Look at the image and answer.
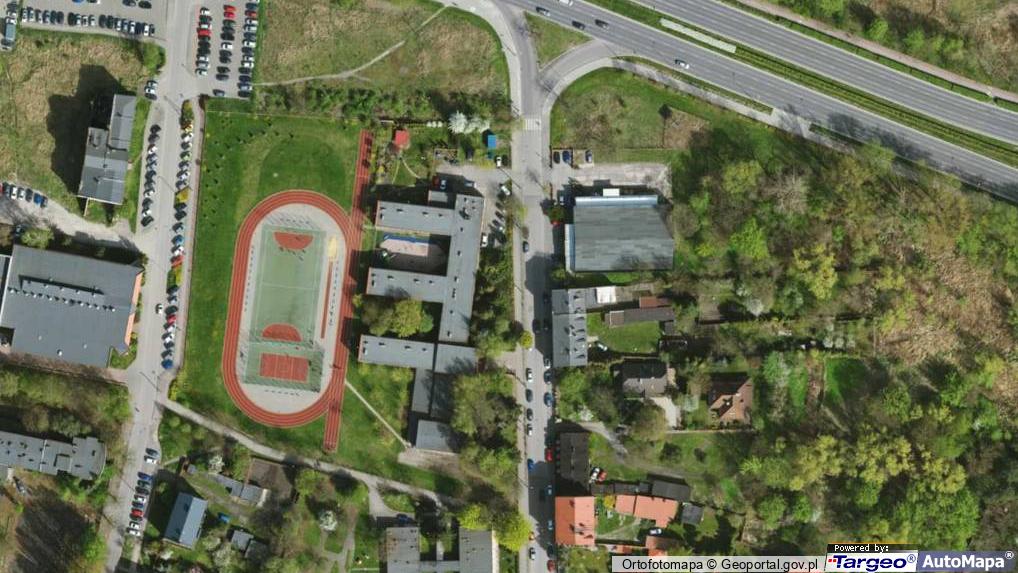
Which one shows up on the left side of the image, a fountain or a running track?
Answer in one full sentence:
It is a running track that can be seen on the left side of the image.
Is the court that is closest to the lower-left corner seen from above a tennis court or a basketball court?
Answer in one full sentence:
From above, the court that is closest to the lower-left corner can be identified as a basketball court.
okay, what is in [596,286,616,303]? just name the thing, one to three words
shed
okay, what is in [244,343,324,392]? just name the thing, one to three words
basketball court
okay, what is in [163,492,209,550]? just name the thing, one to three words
house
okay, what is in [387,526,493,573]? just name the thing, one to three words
building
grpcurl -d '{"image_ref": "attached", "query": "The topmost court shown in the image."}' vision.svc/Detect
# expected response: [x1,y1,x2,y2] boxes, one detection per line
[250,226,326,348]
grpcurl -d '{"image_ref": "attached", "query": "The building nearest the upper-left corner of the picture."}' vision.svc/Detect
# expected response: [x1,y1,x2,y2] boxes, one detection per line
[79,95,140,205]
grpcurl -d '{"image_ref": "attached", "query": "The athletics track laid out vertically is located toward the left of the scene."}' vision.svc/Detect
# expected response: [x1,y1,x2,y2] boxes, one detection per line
[222,128,374,454]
